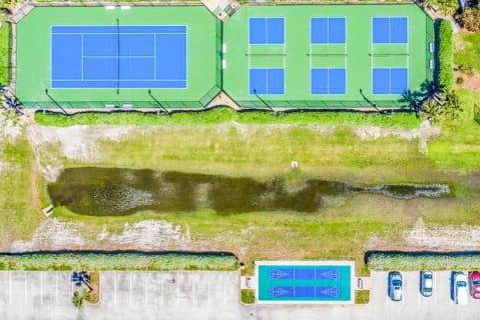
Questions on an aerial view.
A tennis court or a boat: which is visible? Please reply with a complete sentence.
It is a tennis court that can be seen here.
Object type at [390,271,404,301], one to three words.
vehicle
